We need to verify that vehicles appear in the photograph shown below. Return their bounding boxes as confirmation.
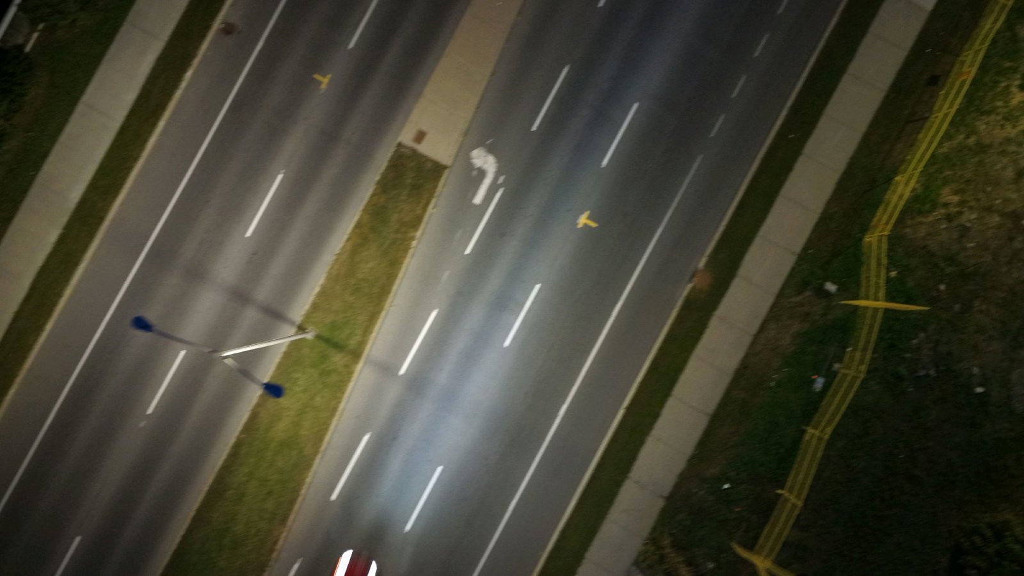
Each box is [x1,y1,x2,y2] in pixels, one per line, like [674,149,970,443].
[329,546,375,576]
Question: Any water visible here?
No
